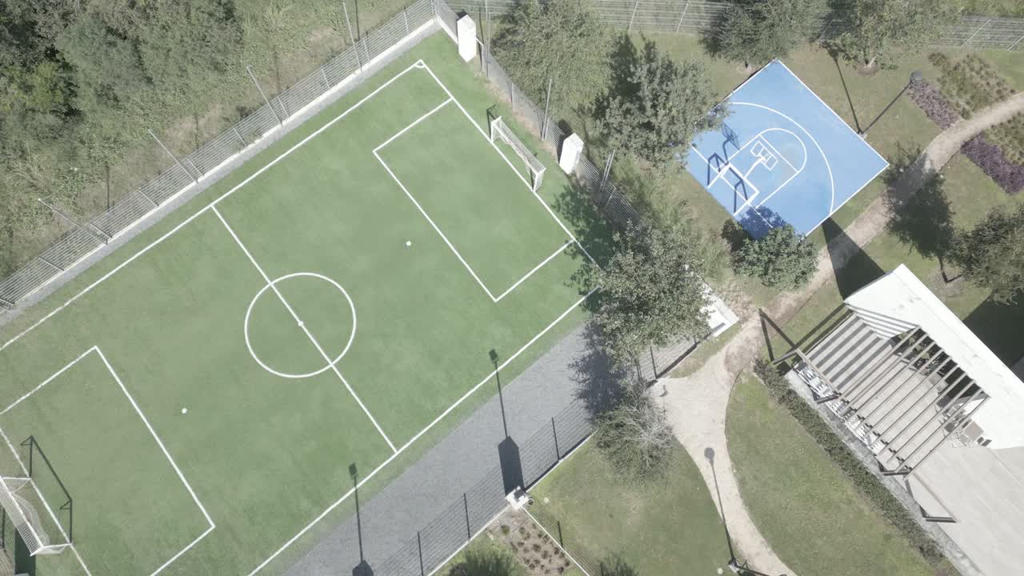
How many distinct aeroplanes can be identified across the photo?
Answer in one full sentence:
The photo contains no aeroplanes.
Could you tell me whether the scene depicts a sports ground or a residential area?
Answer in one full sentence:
It's a sports ground.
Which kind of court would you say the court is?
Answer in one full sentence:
I'd identify the court as a basketball court.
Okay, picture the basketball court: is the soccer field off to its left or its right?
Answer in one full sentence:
Relative to the basketball court, the soccer field is on the left.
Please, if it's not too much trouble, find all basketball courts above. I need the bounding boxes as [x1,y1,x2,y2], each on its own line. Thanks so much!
[668,61,889,252]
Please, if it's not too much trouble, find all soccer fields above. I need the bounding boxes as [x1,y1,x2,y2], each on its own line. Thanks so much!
[0,30,666,576]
